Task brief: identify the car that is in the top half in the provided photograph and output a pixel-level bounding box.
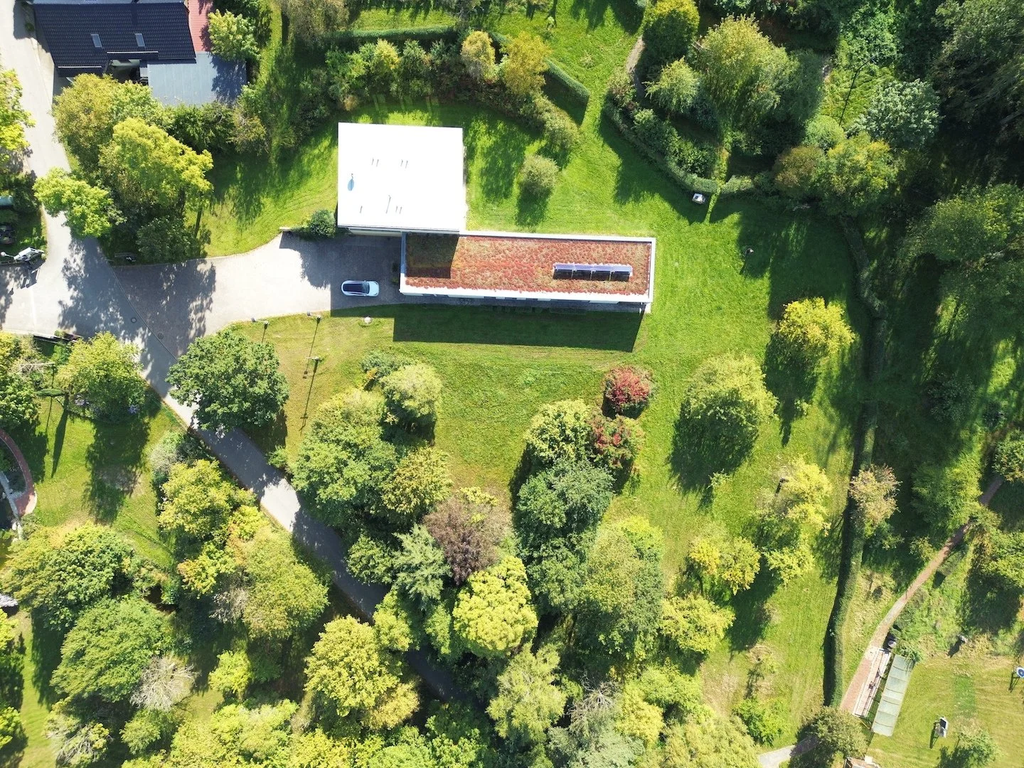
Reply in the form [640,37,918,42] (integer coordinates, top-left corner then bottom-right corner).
[341,279,380,297]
